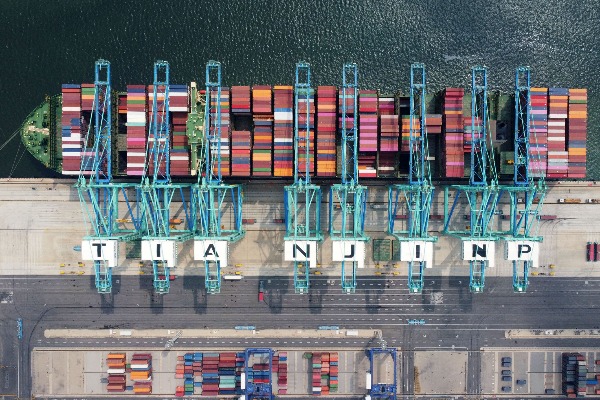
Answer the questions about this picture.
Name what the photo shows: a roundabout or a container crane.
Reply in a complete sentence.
The one in the frame is a container crane.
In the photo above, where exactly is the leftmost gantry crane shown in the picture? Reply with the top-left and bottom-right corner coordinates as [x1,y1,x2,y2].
[76,59,149,294]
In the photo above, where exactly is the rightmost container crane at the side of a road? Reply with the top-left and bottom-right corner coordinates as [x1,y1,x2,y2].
[476,63,551,295]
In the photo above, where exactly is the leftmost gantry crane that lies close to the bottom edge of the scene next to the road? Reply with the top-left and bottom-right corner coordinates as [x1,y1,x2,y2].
[238,347,277,400]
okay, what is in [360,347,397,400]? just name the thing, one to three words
container crane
